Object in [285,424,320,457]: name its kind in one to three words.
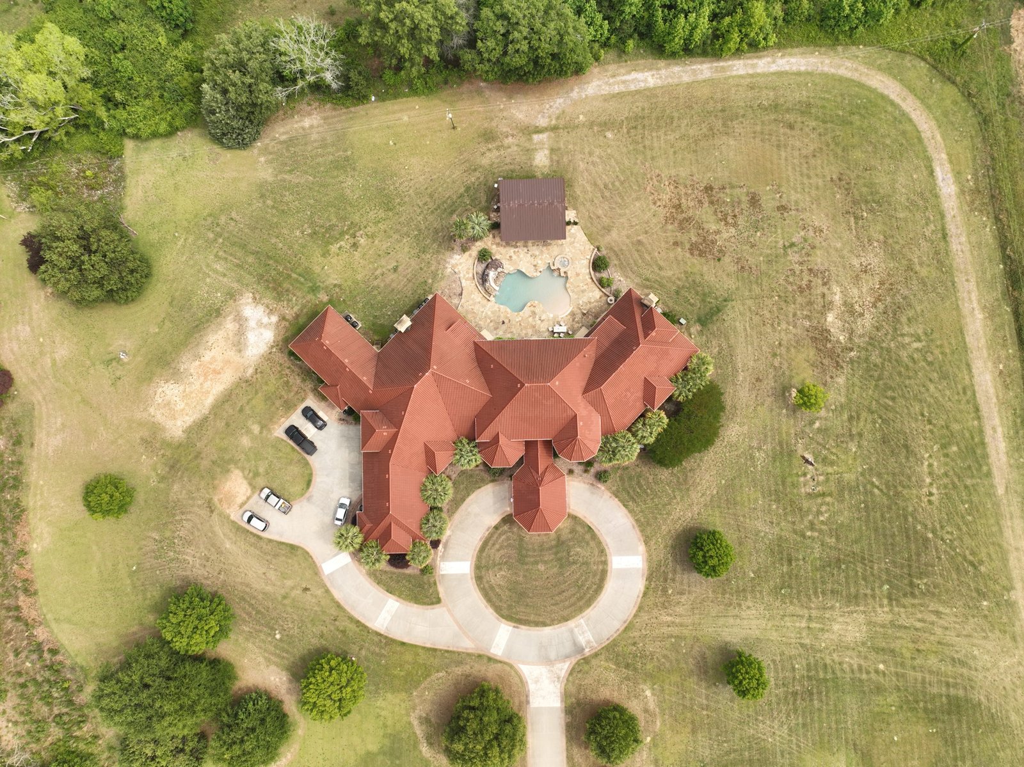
truck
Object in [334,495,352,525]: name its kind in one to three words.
car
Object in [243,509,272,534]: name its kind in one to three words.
car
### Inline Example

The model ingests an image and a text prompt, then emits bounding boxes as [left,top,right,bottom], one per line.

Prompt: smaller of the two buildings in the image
[499,178,566,241]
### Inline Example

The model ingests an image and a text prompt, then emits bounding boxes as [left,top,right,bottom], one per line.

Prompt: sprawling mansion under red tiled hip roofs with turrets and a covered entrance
[288,287,701,553]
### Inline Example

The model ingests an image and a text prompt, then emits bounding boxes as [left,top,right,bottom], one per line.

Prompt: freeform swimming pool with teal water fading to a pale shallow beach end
[494,263,572,317]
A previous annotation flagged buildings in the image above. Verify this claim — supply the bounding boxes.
[499,178,566,241]
[288,287,701,553]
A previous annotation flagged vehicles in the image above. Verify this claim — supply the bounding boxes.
[285,424,320,457]
[302,405,330,433]
[260,485,295,517]
[334,495,352,525]
[243,509,272,534]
